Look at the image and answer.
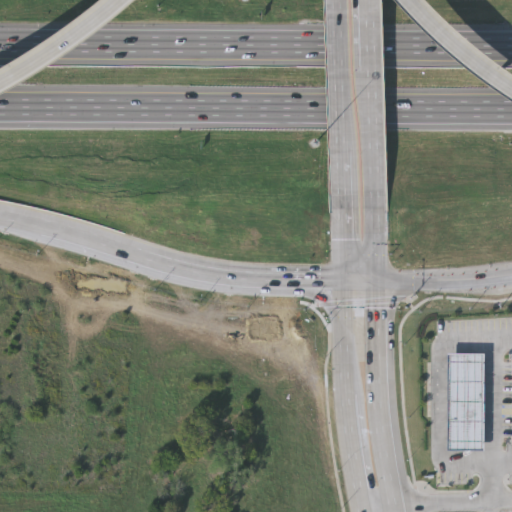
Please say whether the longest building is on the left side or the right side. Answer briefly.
right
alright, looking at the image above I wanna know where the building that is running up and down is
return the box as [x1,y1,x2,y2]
[447,354,486,450]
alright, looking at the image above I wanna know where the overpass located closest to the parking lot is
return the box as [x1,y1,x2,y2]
[324,0,388,212]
